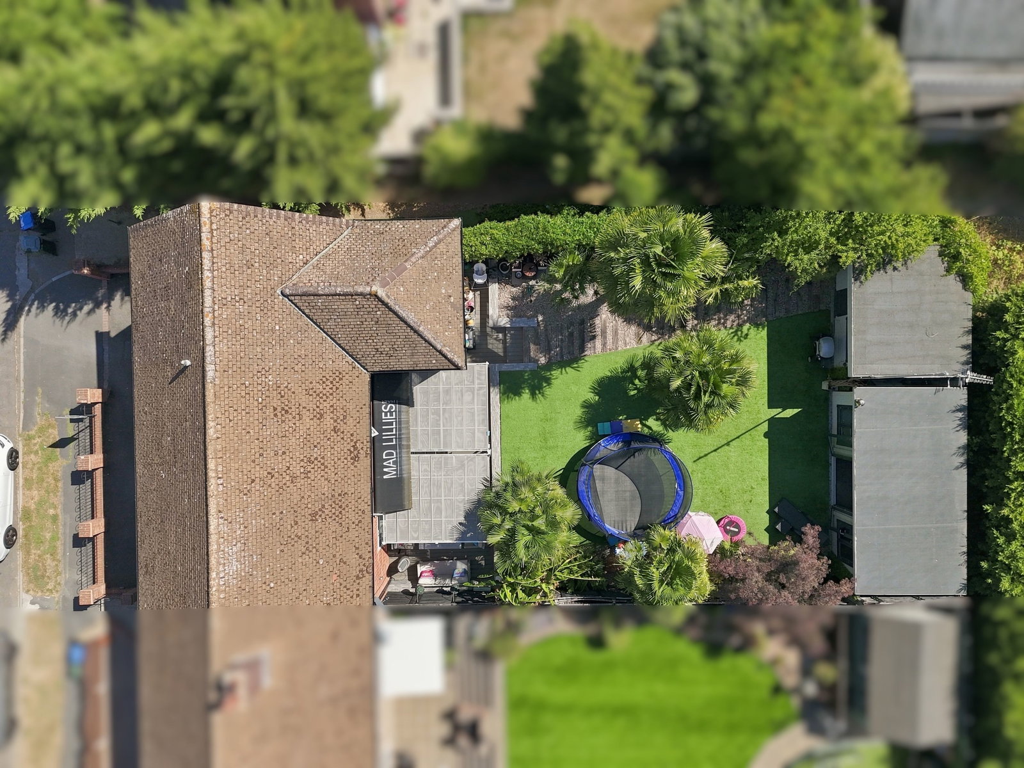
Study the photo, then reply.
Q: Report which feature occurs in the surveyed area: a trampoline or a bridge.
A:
trampoline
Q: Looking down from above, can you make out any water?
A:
No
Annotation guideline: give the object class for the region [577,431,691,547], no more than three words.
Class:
trampoline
